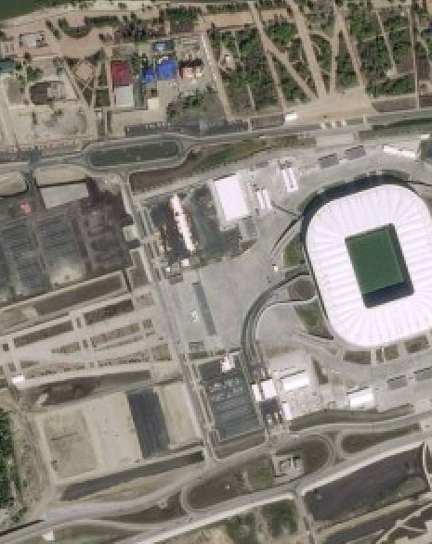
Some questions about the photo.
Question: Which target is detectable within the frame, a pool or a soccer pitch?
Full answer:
Of the two, only a soccer pitch appears.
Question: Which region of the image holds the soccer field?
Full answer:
Look in the right portion of the view to spot the soccer field.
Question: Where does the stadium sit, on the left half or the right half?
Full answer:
The stadium is on the right side of the image.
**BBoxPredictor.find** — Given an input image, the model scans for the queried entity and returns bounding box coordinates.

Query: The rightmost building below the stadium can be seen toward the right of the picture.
[347,390,375,407]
